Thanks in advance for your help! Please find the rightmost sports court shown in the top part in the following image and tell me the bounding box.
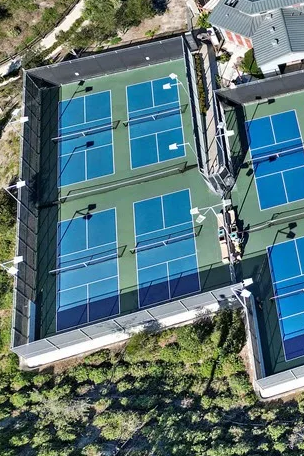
[245,109,304,210]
